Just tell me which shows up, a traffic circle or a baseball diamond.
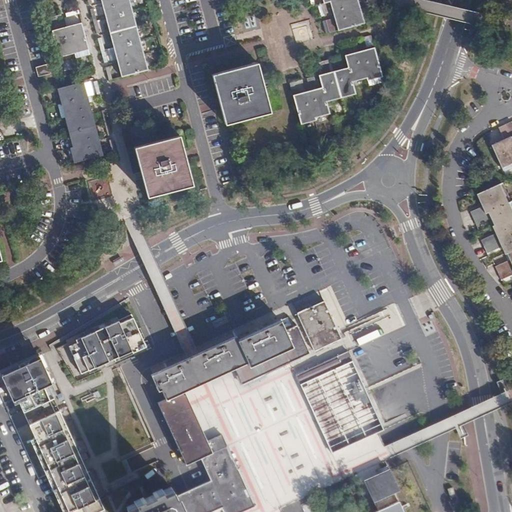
traffic circle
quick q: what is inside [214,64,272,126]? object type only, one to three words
building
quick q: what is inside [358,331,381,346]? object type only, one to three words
vehicle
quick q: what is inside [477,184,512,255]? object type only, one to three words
house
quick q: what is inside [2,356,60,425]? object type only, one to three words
building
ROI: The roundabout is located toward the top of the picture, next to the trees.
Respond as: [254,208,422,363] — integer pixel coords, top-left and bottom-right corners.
[346,148,417,217]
